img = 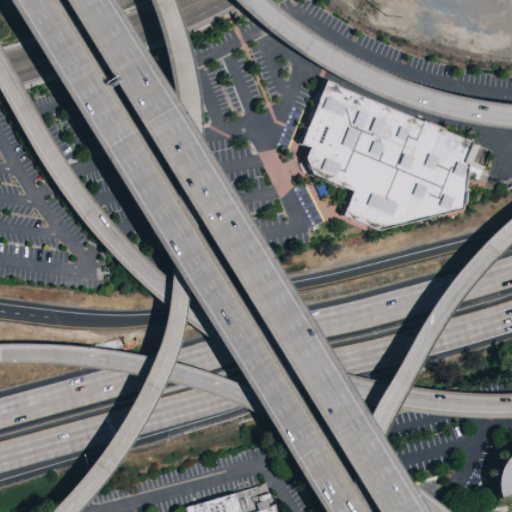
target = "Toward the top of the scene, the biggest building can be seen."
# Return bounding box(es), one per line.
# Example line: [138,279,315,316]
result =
[303,81,472,228]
